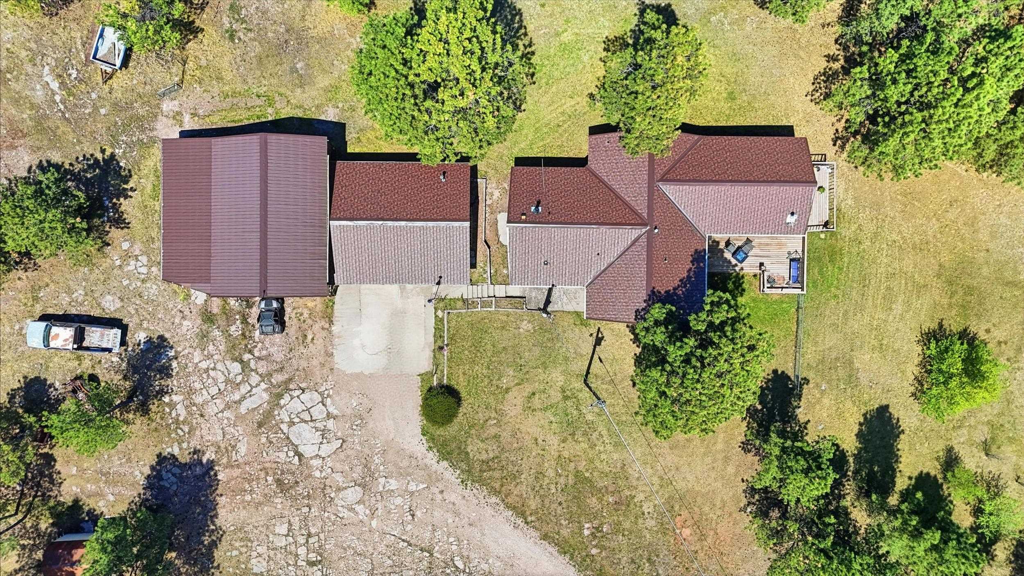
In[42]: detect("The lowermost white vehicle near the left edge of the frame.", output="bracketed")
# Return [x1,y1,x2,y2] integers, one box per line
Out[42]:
[24,317,127,355]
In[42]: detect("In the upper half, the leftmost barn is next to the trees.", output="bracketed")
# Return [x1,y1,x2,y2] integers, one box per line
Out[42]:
[160,131,339,298]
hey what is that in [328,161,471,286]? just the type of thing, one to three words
building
